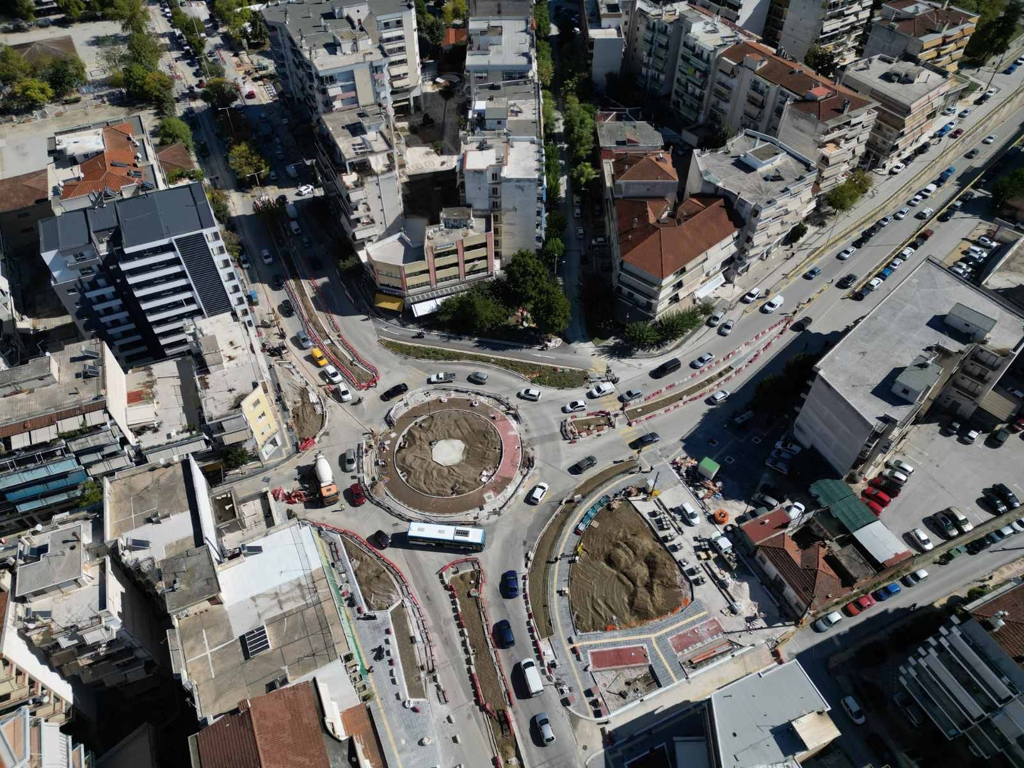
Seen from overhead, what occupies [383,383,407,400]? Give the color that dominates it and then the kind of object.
black car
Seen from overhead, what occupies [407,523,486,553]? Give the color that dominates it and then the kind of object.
white bus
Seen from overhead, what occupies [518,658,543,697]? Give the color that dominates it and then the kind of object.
white vehicle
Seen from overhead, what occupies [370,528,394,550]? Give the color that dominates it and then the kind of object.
black car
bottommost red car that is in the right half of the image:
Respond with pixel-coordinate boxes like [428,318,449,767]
[846,595,876,616]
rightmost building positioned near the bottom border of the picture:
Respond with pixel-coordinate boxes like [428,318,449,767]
[893,581,1024,763]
